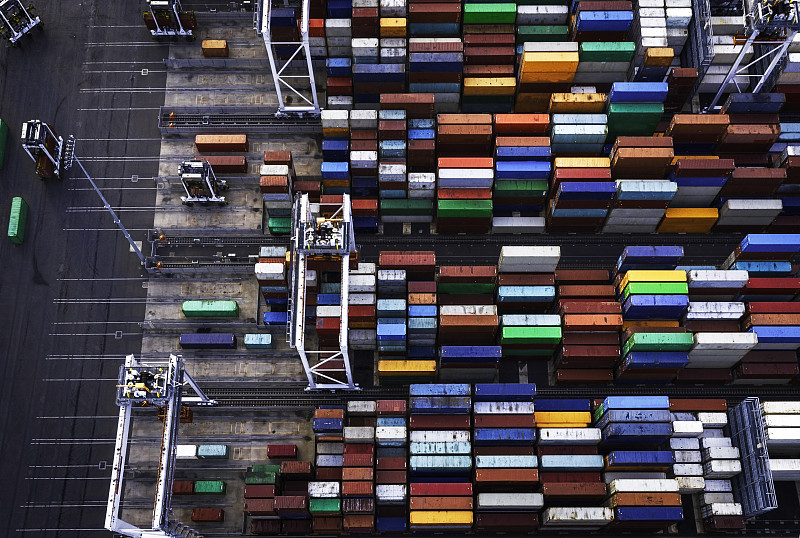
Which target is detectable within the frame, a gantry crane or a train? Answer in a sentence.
Visible in the photo is a gantry crane.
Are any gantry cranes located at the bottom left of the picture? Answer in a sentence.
Yes, a gantry crane appears at the bottom left of the picture.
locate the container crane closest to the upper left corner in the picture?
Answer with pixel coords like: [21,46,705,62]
[254,0,327,116]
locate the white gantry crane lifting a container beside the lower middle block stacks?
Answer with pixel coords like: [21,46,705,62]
[288,194,365,392]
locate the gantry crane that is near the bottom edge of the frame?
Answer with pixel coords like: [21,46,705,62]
[102,358,222,538]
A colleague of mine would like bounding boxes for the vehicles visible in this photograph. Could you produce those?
[15,118,65,176]
[0,0,44,45]
[143,0,194,40]
[173,156,227,205]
